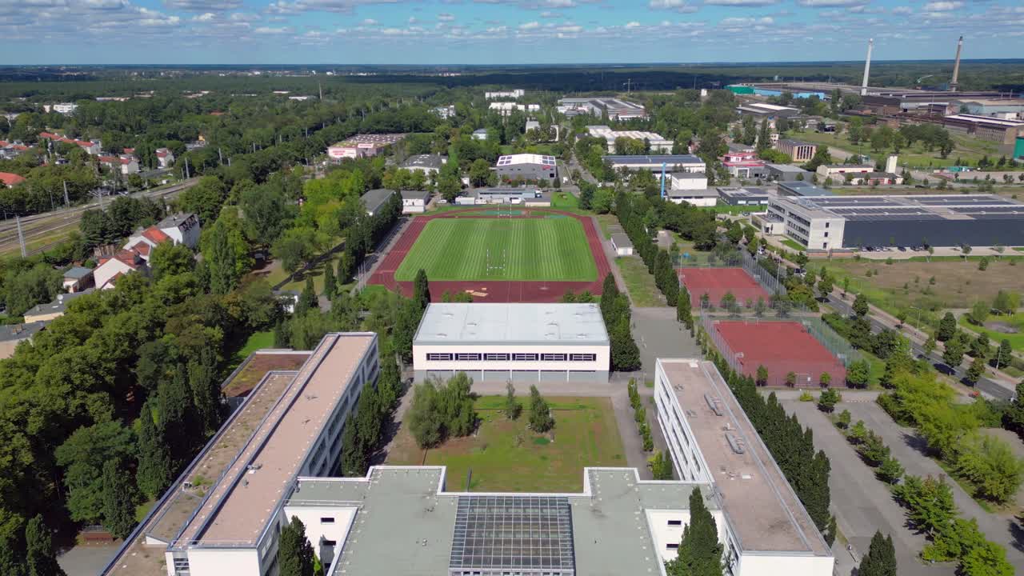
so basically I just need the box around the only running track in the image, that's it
[368,205,626,300]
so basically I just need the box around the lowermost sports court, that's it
[717,321,861,386]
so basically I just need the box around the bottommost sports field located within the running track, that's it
[397,218,596,281]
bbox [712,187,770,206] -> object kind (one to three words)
building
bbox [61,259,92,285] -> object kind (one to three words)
house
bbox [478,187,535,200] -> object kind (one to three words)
building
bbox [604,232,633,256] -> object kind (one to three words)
shed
